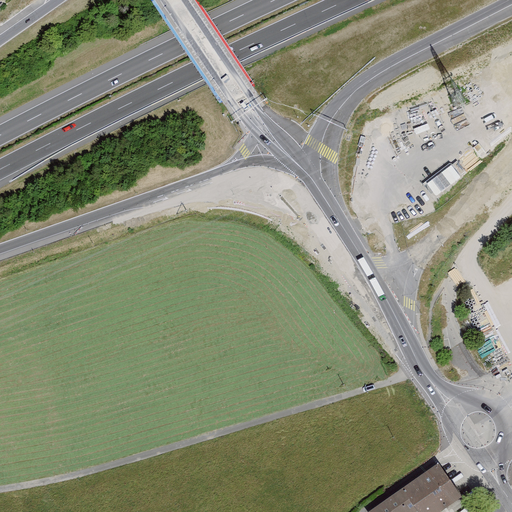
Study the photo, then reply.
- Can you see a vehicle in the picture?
Yes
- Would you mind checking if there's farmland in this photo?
Yes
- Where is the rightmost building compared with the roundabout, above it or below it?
above it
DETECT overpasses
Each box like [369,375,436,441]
[150,0,256,104]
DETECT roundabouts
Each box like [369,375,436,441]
[418,371,512,512]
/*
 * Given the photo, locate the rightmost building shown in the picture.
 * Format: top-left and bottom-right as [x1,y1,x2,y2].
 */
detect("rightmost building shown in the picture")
[424,162,464,198]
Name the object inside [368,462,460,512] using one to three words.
building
